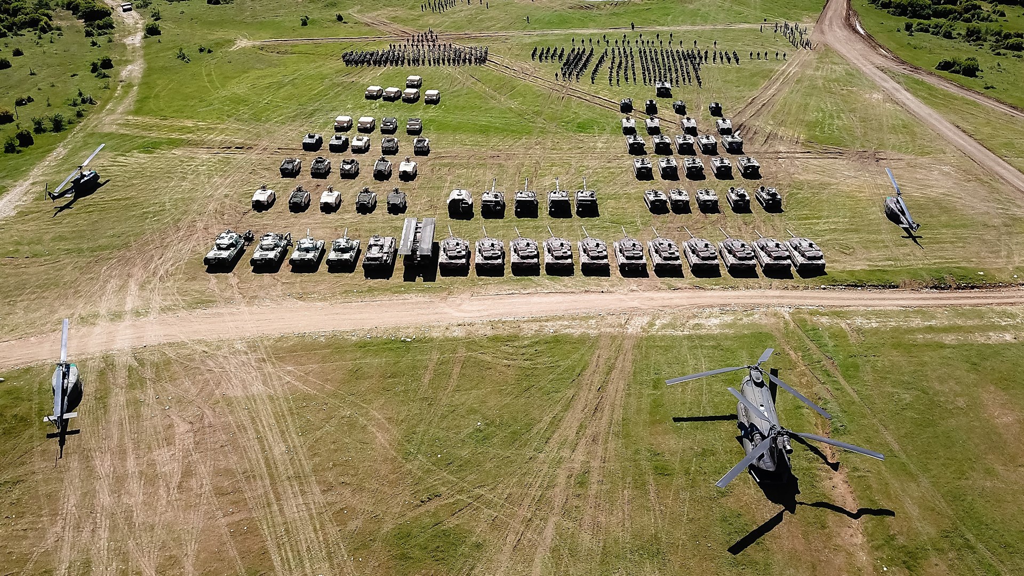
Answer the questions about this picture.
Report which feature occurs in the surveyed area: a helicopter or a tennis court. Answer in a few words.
helicopter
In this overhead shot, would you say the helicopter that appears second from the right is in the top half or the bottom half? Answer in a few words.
bottom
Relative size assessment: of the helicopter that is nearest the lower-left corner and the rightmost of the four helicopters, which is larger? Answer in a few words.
the helicopter that is nearest the lower-left corner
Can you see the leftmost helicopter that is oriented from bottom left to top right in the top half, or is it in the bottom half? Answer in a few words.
top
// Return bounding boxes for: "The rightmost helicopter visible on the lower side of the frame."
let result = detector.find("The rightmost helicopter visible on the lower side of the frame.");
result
[668,342,883,492]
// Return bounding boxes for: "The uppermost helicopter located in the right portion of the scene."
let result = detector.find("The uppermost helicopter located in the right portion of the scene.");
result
[878,170,920,235]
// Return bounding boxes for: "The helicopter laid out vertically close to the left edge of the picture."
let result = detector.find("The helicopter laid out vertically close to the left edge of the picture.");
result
[42,321,87,435]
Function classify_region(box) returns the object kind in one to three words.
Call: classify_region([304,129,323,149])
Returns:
car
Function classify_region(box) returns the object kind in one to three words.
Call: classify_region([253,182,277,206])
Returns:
car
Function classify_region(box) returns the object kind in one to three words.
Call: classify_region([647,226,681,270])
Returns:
vehicle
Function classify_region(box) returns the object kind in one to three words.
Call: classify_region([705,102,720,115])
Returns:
vehicle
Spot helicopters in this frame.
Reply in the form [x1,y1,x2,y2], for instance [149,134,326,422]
[878,170,920,235]
[44,148,107,206]
[42,321,87,435]
[668,342,883,492]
